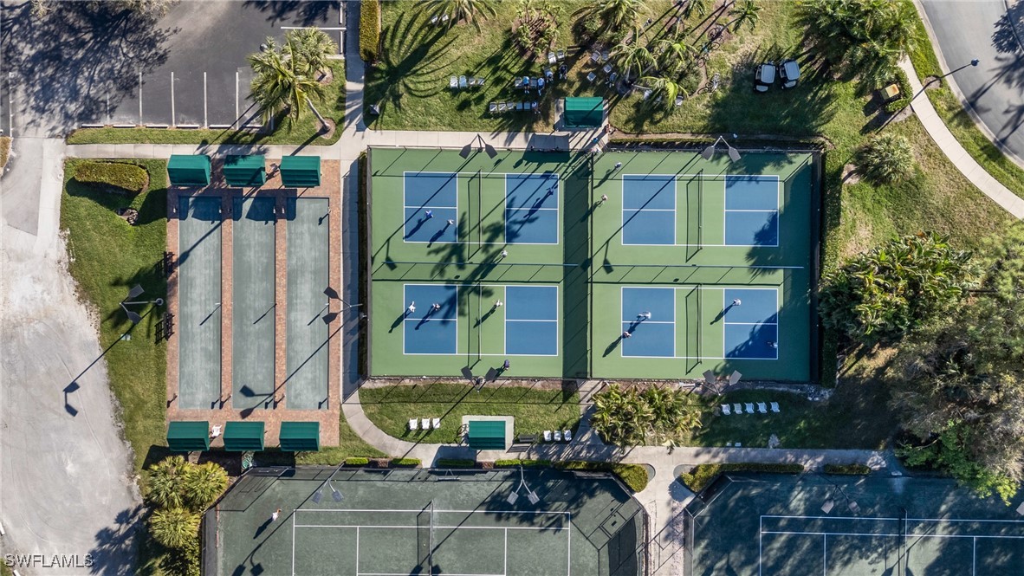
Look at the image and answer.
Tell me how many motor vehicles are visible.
2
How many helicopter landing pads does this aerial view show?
0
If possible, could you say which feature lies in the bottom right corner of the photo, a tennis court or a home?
tennis court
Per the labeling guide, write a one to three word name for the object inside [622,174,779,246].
sports court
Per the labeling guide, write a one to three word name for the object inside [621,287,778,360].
sports court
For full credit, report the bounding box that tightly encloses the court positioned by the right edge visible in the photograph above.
[686,474,1024,576]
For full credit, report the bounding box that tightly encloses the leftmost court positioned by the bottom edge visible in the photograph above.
[216,468,641,576]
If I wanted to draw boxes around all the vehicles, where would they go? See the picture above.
[756,62,777,91]
[778,59,802,89]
